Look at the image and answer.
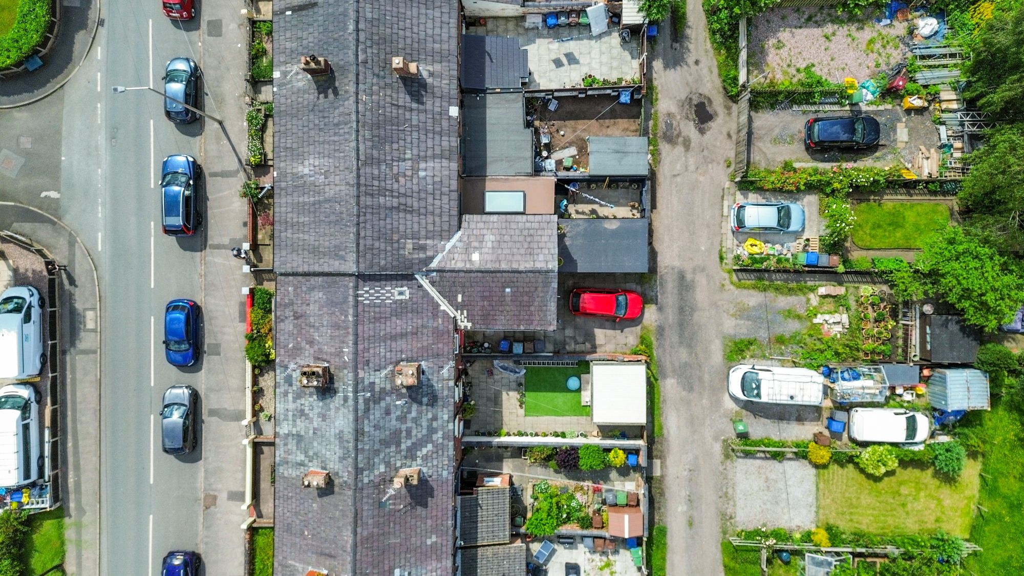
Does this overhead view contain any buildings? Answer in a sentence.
Yes, the picture does show a building.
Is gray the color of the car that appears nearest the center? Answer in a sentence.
No, from above the car that appears nearest the center looks red.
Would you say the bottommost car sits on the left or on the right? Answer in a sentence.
The bottommost car sits on the left side.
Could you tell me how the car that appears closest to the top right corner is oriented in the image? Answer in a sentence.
I'd say the car that appears closest to the top right corner is aligned from side to side in the picture.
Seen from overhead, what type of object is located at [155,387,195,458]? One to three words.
car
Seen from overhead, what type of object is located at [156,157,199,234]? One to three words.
car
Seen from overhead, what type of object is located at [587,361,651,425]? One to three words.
building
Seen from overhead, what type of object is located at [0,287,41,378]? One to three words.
van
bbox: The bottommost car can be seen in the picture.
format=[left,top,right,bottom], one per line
[160,553,197,576]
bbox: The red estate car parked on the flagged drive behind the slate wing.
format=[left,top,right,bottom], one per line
[572,287,643,324]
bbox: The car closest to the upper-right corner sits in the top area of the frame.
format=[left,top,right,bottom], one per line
[808,111,883,148]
